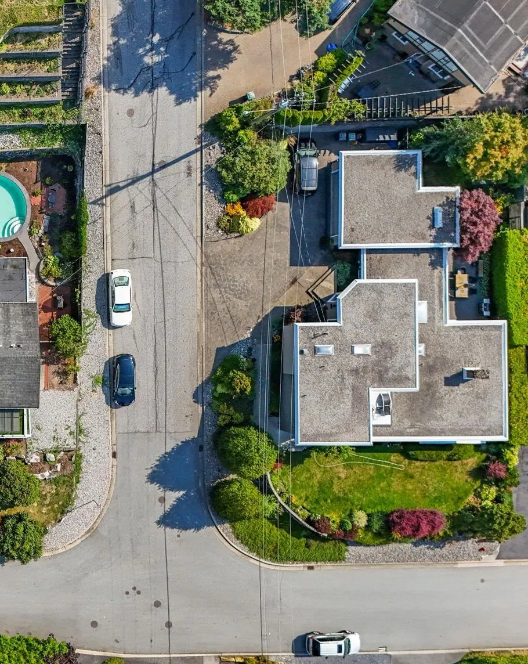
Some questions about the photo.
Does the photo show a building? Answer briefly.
Yes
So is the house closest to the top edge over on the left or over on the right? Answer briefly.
right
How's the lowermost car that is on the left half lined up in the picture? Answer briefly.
vertically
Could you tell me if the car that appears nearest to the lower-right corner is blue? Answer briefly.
No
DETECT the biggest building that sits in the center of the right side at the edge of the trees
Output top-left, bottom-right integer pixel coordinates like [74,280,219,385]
[272,151,507,447]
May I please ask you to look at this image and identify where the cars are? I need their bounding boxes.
[312,0,361,38]
[289,138,321,199]
[108,268,135,329]
[110,354,137,407]
[304,627,361,657]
